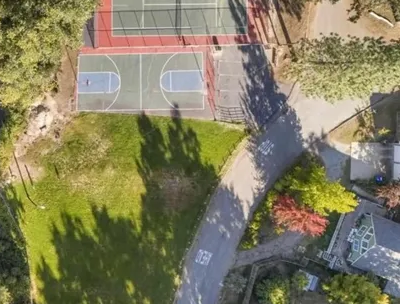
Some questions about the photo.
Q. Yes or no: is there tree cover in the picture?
Yes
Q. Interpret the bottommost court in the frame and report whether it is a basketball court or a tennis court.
basketball court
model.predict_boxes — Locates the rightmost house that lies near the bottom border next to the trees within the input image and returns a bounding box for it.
[345,211,400,302]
